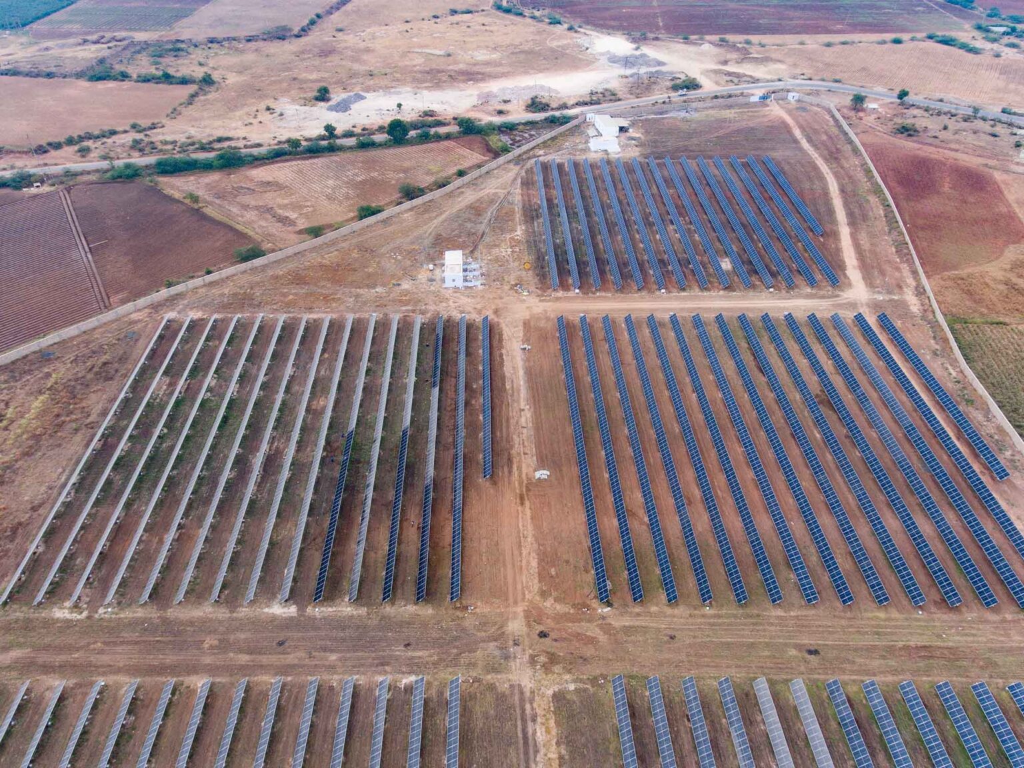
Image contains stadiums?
No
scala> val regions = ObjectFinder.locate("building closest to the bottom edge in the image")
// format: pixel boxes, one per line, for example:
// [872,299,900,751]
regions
[443,251,466,288]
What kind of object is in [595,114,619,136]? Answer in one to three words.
building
